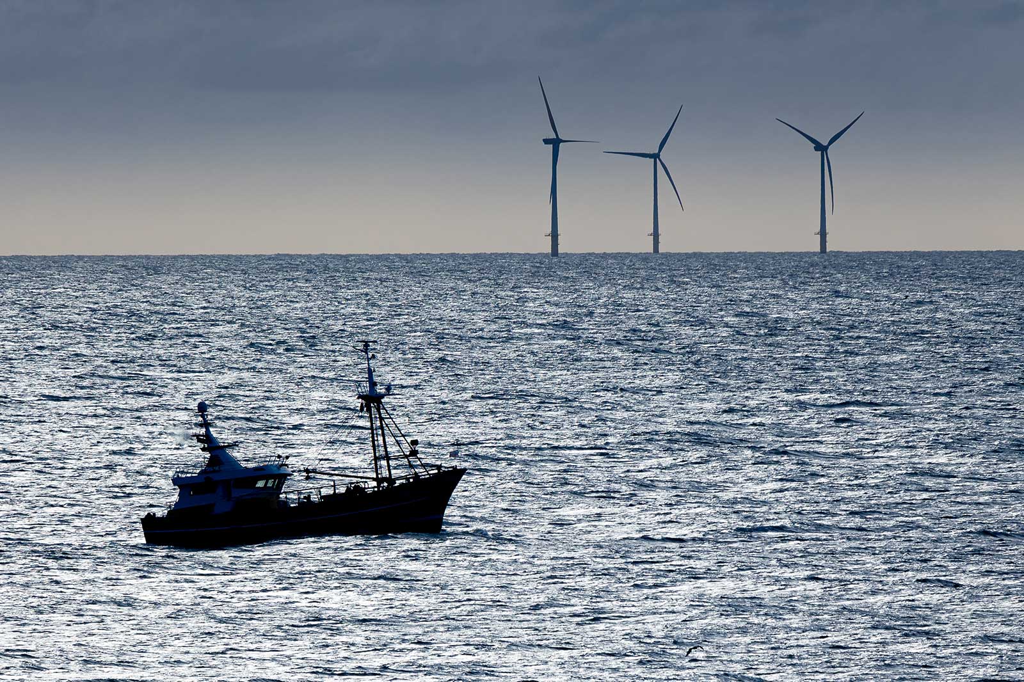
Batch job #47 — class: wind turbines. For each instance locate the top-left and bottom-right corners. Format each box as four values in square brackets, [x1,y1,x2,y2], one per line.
[776,111,864,253]
[604,105,685,253]
[538,75,598,256]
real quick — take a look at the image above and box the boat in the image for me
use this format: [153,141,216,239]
[141,341,467,542]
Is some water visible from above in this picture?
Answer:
Yes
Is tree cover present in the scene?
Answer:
No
